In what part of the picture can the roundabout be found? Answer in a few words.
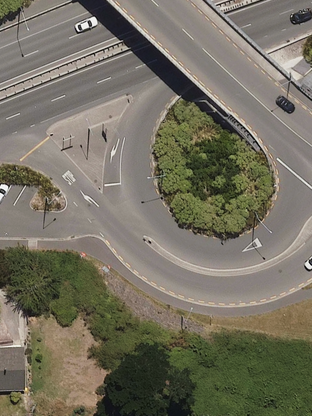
center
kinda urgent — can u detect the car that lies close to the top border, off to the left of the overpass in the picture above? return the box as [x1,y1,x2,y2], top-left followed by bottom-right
[74,18,98,34]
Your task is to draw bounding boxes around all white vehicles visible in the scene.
[0,184,8,206]
[74,18,98,34]
[303,254,312,270]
